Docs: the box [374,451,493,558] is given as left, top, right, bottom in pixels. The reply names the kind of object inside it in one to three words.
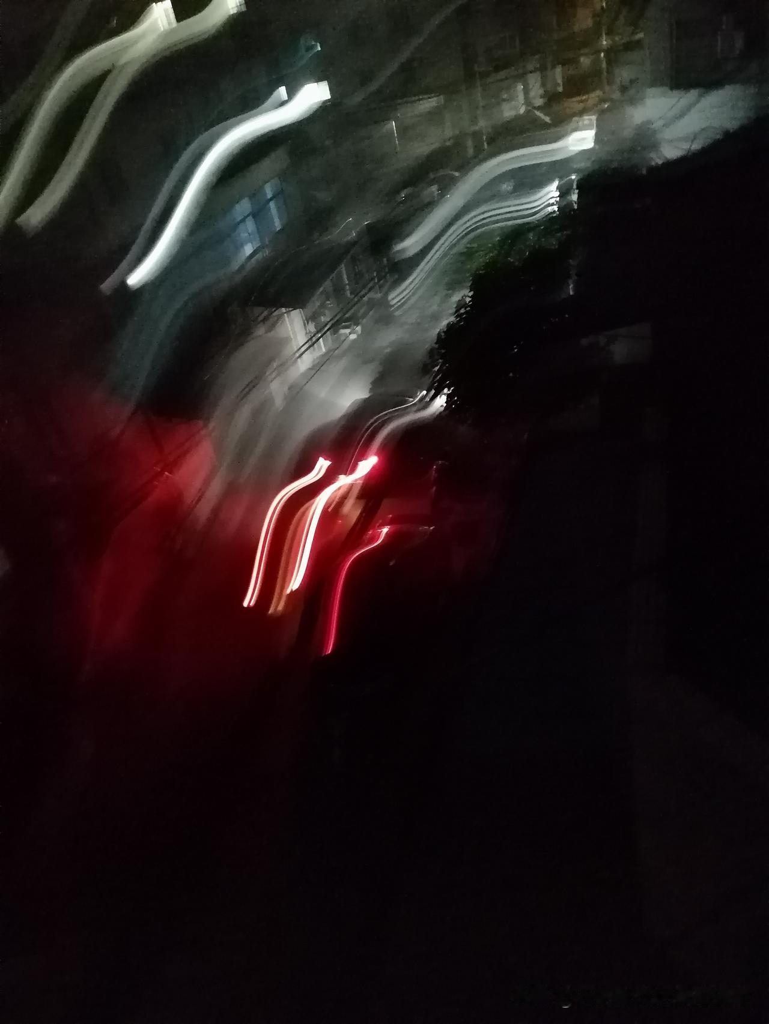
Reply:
car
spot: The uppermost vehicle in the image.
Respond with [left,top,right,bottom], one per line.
[318,403,422,485]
